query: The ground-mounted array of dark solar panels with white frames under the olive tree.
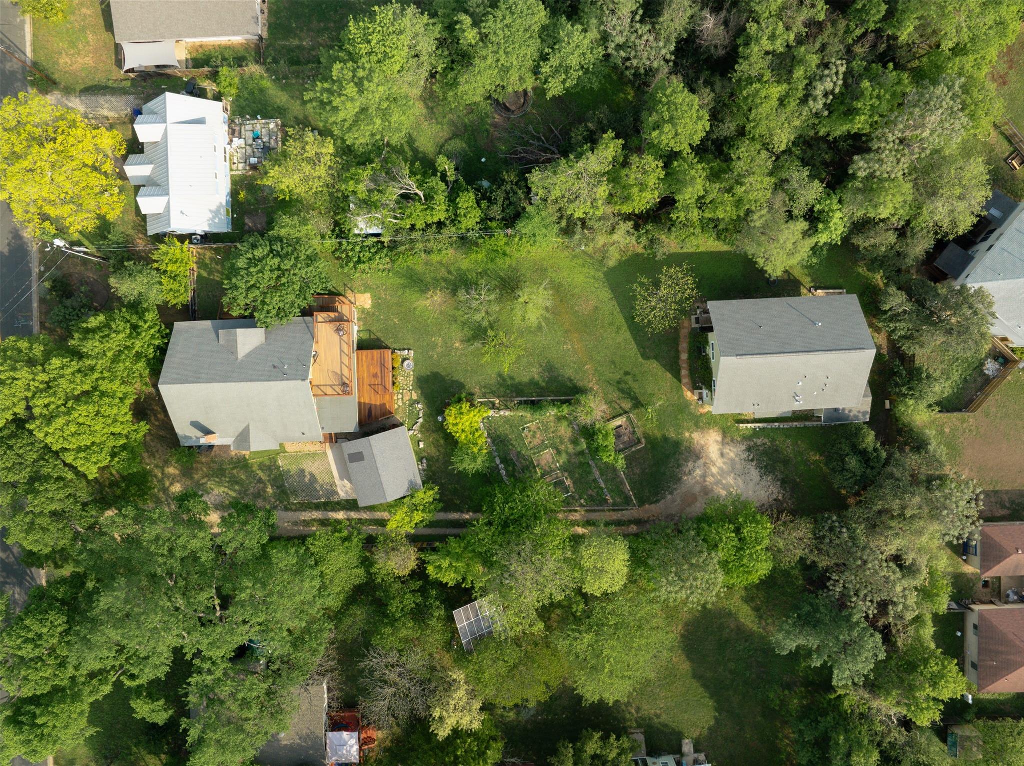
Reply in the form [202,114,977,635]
[453,592,511,653]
